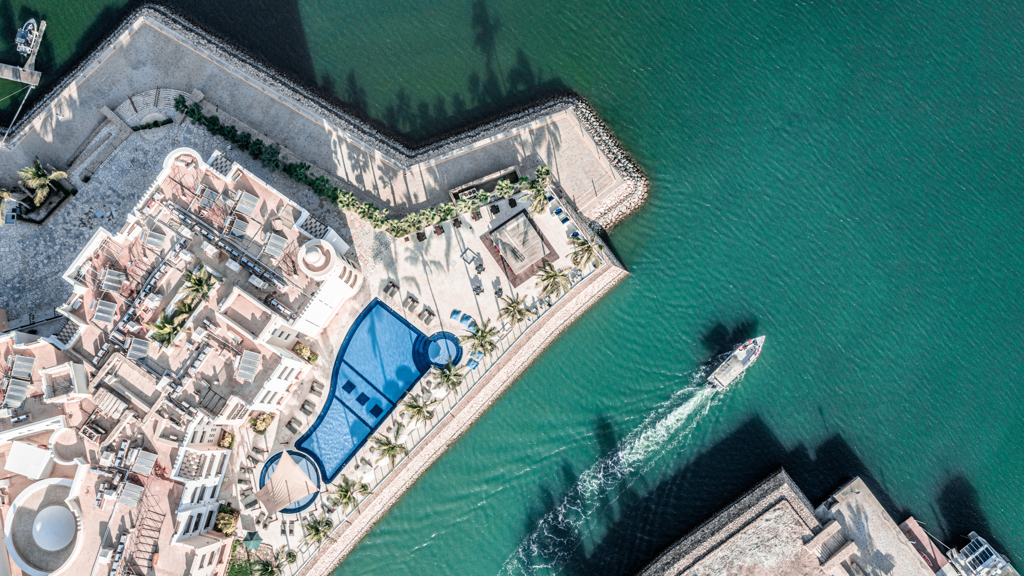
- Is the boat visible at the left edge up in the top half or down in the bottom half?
top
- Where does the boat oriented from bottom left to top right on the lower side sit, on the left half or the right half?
right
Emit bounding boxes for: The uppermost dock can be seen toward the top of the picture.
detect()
[0,20,48,90]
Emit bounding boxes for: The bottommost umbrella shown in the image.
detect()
[242,531,263,551]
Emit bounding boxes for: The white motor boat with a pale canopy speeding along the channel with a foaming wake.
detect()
[706,335,766,391]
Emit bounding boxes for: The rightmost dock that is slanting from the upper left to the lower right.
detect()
[896,515,947,573]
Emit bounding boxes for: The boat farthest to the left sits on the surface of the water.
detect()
[15,20,35,55]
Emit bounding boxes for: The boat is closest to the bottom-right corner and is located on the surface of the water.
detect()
[943,531,1022,576]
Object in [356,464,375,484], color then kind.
white umbrella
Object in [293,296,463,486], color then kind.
blue swimming pool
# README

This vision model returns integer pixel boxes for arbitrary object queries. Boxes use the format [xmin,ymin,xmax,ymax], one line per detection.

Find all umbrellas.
[242,531,263,551]
[356,464,375,484]
[404,412,424,432]
[368,444,388,464]
[429,380,450,400]
[390,424,409,443]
